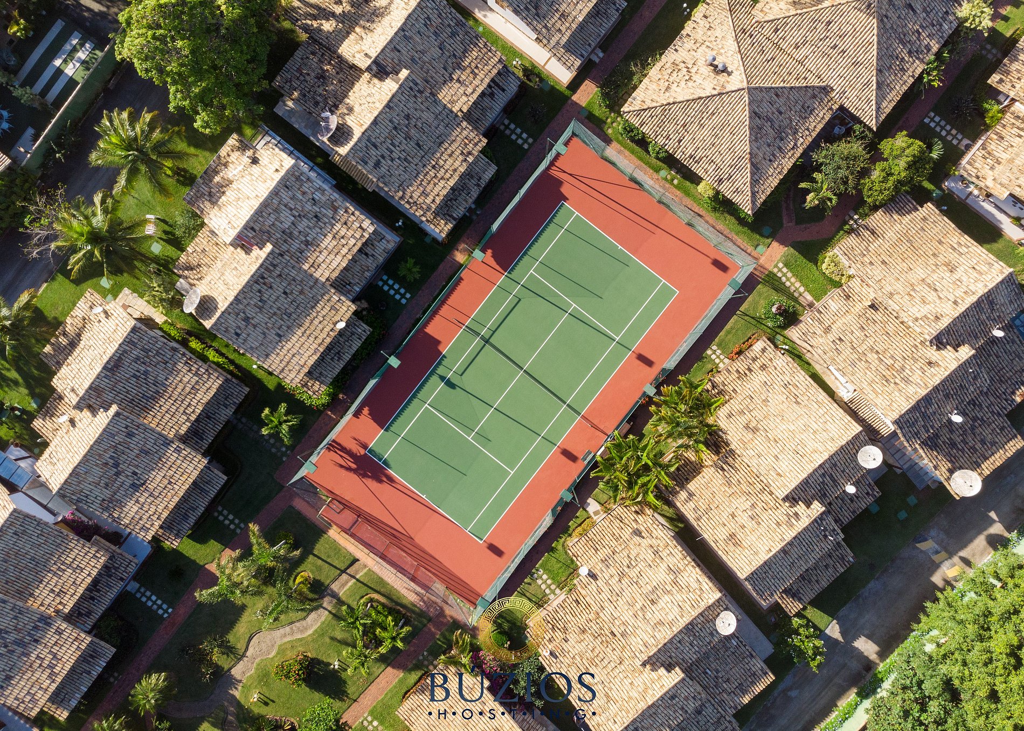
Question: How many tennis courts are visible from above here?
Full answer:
The picture shows just 1 tennis court.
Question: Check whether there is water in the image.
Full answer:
No, the picture contains no water.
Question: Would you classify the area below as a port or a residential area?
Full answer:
The picture captures a residential area.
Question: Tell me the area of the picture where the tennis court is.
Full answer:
The tennis court appears toward the center of the photo.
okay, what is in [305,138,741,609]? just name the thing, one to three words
tennis court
